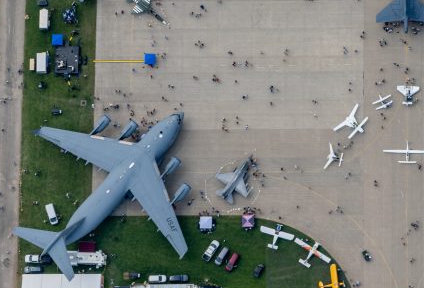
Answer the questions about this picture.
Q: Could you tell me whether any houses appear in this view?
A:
No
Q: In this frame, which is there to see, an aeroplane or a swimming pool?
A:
aeroplane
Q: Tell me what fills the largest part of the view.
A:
paved ground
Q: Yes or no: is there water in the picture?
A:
No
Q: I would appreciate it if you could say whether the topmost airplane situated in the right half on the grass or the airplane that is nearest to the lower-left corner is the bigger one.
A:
the airplane that is nearest to the lower-left corner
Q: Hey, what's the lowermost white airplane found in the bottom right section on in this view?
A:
grass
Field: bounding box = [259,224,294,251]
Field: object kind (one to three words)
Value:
airplane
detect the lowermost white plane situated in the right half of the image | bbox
[294,238,331,269]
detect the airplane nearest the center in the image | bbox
[212,154,252,208]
